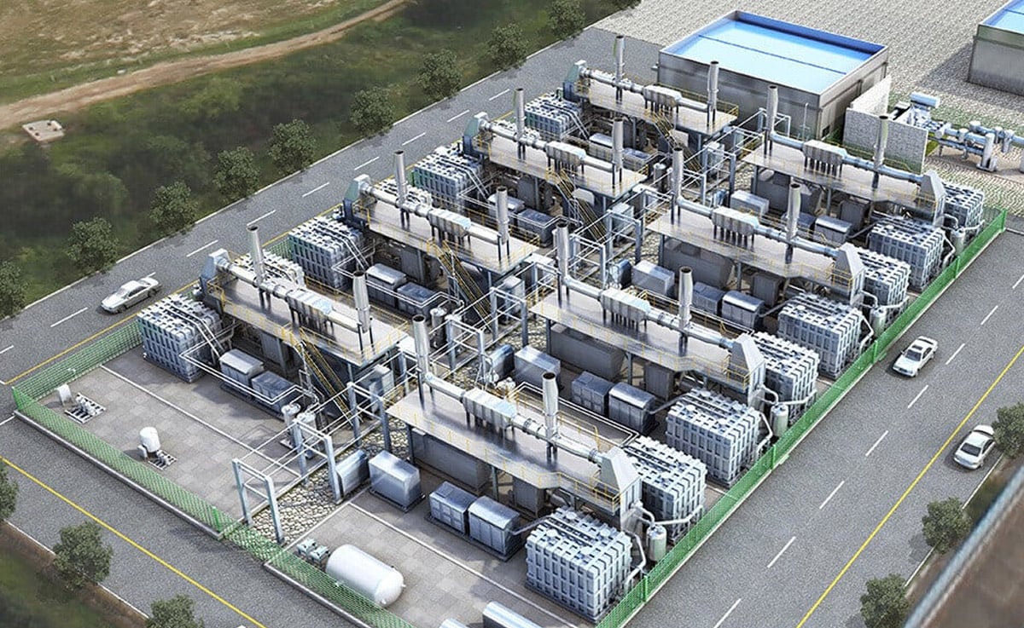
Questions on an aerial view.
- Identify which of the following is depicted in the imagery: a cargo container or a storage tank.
storage tank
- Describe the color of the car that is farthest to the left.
white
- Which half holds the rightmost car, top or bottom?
bottom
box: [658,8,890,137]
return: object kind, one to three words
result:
building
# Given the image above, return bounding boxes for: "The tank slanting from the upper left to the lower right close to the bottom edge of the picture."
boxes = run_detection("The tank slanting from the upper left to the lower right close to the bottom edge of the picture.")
[326,543,409,610]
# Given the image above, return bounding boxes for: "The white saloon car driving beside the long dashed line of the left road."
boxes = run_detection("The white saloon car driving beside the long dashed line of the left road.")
[103,270,169,309]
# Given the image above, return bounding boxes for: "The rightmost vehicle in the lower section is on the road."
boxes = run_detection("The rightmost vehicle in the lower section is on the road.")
[946,422,995,472]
